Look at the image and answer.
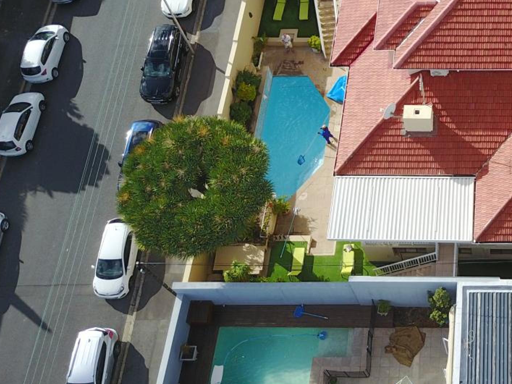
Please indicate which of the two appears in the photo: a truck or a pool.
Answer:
pool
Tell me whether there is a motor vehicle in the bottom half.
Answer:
Yes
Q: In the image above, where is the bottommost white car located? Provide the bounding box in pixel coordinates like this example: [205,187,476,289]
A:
[60,328,117,384]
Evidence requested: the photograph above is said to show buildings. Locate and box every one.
[453,280,512,384]
[328,0,512,270]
